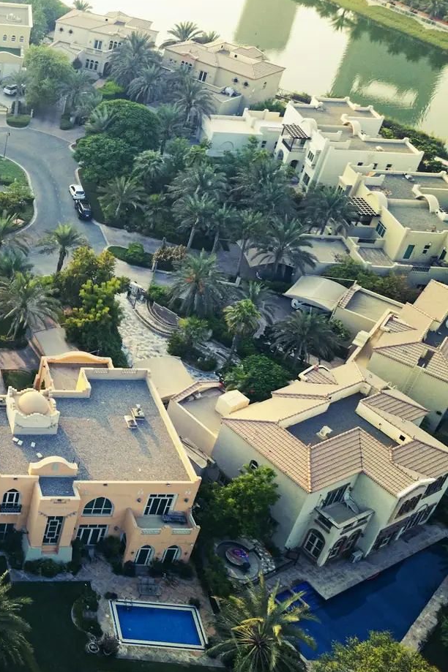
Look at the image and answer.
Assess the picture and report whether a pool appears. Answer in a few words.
Yes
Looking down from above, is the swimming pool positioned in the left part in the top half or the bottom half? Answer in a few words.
bottom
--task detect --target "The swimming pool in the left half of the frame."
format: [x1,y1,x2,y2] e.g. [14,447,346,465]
[103,590,217,655]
